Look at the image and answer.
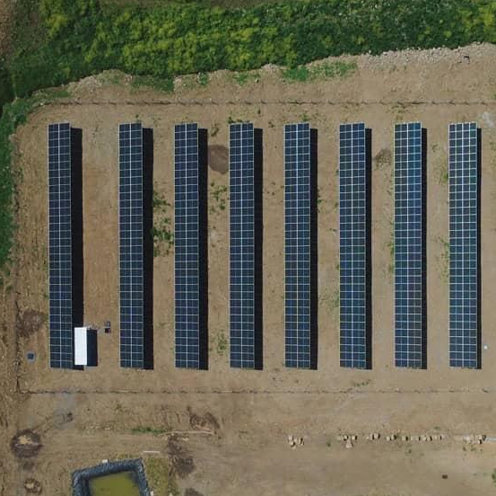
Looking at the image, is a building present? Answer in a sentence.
No, there appears to be no building in this shot.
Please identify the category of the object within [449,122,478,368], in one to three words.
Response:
solar array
